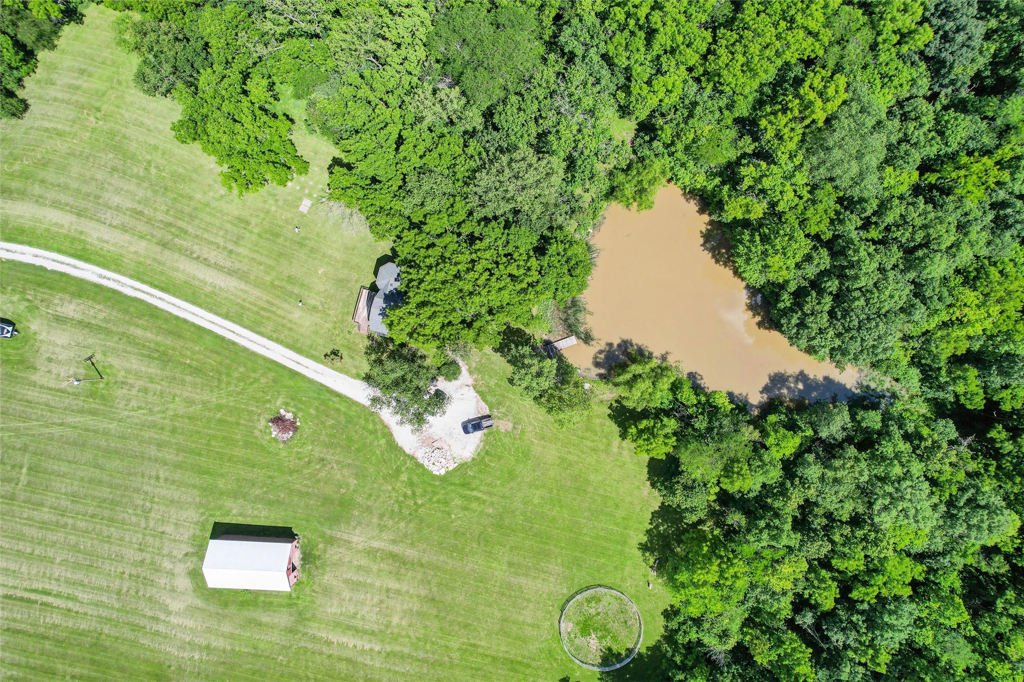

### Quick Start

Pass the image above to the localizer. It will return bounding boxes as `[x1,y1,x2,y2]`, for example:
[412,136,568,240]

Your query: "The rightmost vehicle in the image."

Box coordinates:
[460,416,496,435]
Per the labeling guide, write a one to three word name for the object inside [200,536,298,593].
barn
